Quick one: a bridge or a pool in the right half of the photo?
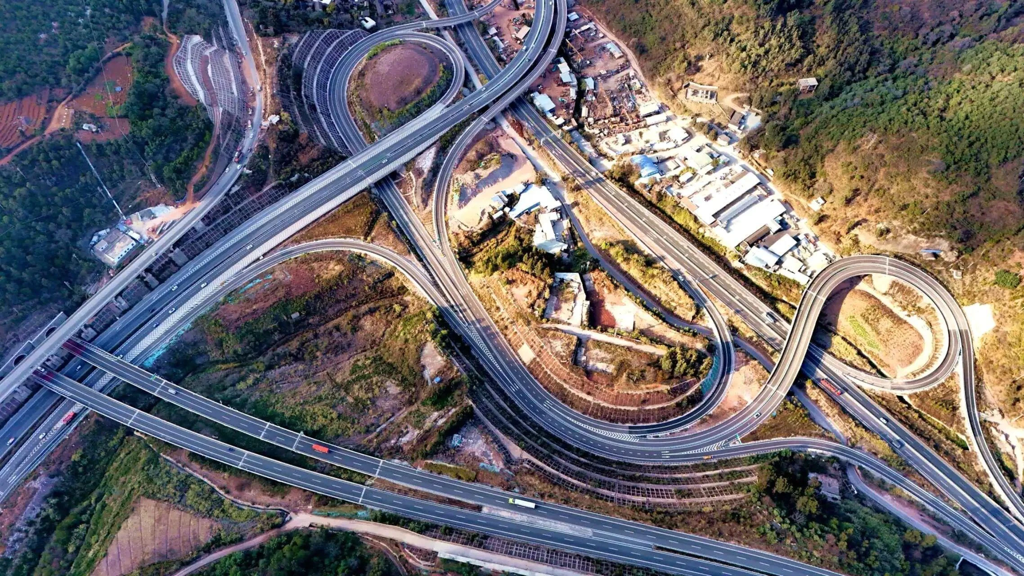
bridge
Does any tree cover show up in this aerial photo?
Yes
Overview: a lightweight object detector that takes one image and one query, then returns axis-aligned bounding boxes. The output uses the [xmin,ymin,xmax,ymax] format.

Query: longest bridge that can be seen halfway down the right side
[750,256,866,415]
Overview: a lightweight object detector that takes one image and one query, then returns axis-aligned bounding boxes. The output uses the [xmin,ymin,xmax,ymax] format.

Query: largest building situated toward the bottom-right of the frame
[819,476,839,496]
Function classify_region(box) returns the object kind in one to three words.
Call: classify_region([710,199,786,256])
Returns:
building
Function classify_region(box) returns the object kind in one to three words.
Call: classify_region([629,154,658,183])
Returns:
shed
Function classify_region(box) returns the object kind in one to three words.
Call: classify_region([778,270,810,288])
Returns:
building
